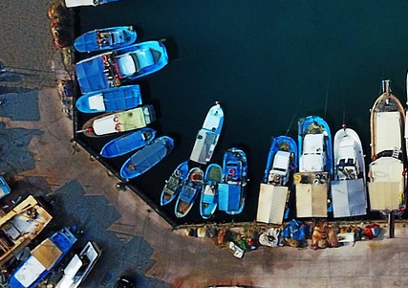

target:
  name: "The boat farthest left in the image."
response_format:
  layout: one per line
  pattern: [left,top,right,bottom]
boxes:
[0,177,18,201]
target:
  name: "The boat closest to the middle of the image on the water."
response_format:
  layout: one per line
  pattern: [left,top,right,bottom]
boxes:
[190,104,223,165]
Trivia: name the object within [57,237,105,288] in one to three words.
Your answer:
boat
